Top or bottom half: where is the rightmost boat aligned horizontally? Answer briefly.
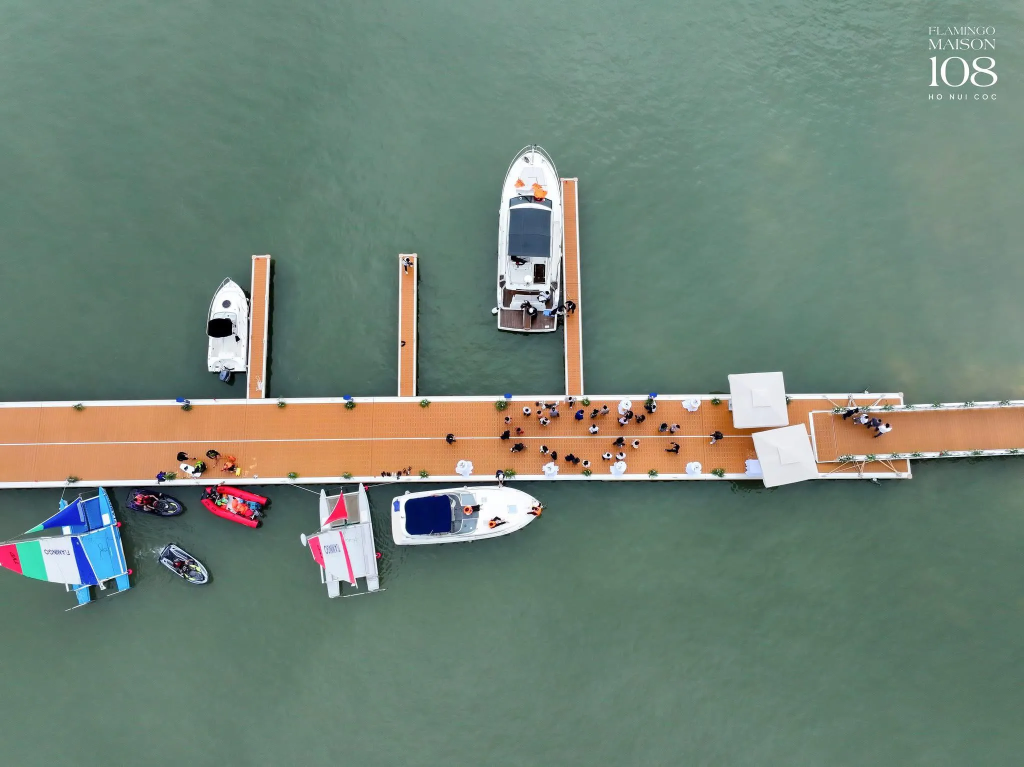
bottom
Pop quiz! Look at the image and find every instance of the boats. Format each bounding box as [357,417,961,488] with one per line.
[160,545,210,582]
[497,145,563,333]
[303,482,387,600]
[0,486,133,611]
[207,277,250,382]
[200,485,275,531]
[125,489,182,515]
[391,487,547,545]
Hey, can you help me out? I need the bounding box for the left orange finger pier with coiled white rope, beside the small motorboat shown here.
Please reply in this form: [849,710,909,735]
[247,254,276,398]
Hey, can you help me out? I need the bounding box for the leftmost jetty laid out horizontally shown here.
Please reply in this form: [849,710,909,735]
[0,391,906,488]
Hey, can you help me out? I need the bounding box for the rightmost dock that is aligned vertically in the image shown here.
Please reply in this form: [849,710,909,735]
[559,176,586,395]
